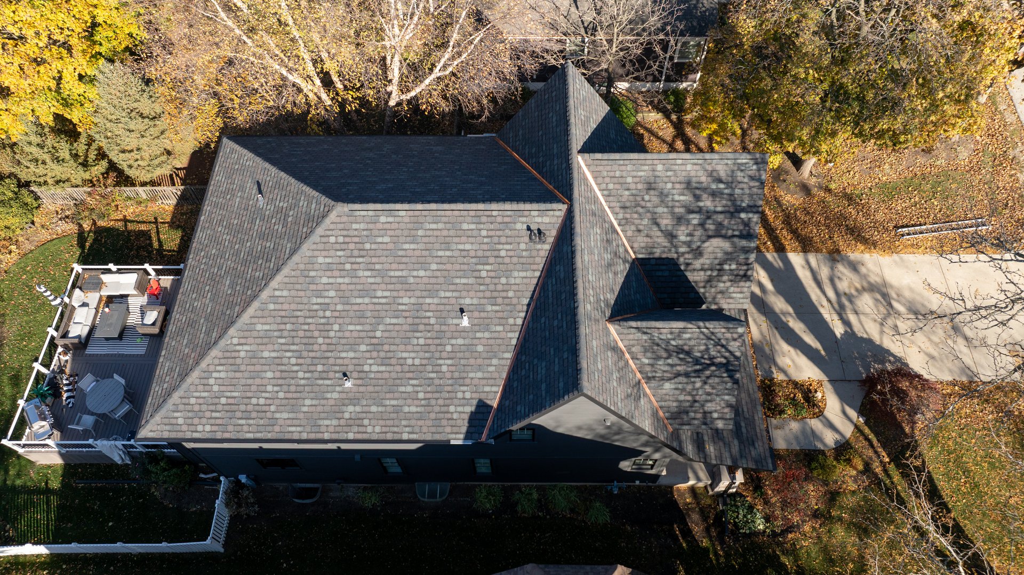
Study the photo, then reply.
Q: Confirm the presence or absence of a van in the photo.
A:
No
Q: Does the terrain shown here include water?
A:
No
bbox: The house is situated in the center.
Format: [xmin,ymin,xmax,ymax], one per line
[131,58,778,516]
